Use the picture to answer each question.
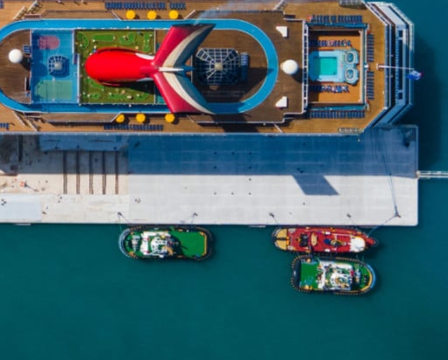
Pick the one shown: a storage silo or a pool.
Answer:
pool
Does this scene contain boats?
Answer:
Yes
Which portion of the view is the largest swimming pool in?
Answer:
top right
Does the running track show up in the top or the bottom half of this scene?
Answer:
top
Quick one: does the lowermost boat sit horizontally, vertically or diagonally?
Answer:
horizontally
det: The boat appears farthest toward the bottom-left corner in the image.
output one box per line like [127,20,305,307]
[118,226,213,262]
